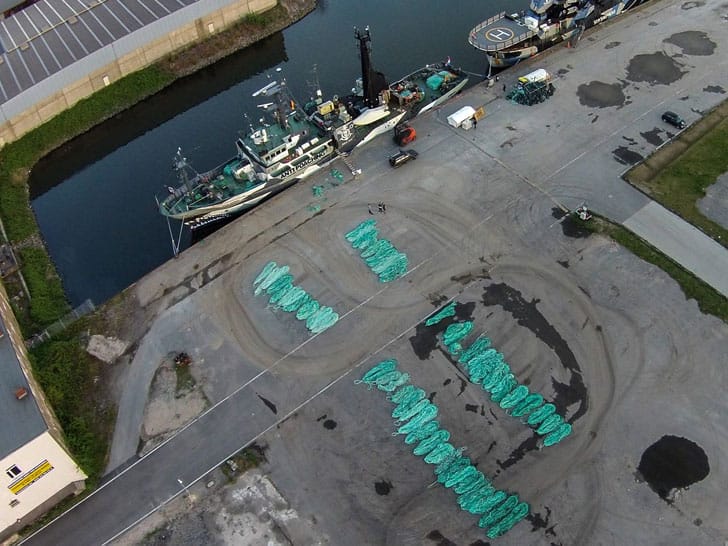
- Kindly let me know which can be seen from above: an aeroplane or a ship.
ship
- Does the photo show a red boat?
No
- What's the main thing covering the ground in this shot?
paved ground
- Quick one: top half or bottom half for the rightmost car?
top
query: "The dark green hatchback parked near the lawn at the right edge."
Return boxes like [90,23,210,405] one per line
[660,106,690,126]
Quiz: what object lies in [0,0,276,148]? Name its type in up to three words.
warehouse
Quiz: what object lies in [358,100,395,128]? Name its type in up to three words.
boat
